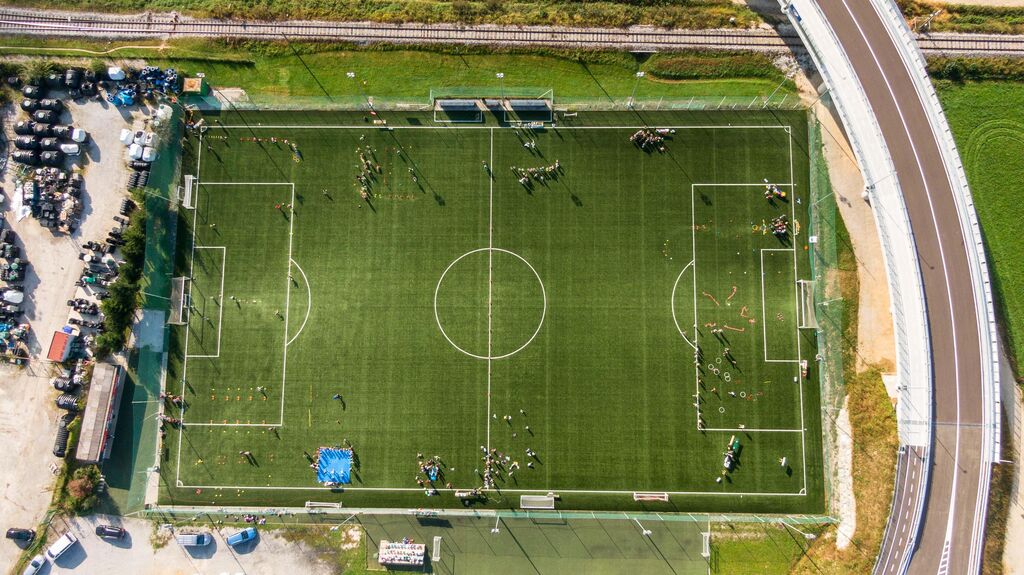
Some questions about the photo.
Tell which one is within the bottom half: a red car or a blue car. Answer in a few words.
blue car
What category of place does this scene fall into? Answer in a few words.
sports ground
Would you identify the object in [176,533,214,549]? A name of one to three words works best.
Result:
car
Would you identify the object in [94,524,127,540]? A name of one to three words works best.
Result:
car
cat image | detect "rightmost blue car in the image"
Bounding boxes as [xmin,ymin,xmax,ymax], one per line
[225,527,259,547]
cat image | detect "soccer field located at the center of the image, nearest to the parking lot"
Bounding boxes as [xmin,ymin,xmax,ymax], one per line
[158,109,826,513]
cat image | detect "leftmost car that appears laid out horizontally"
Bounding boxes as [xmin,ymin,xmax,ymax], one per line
[6,528,37,542]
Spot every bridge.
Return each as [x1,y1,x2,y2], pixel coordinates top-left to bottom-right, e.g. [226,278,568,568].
[773,0,1004,463]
